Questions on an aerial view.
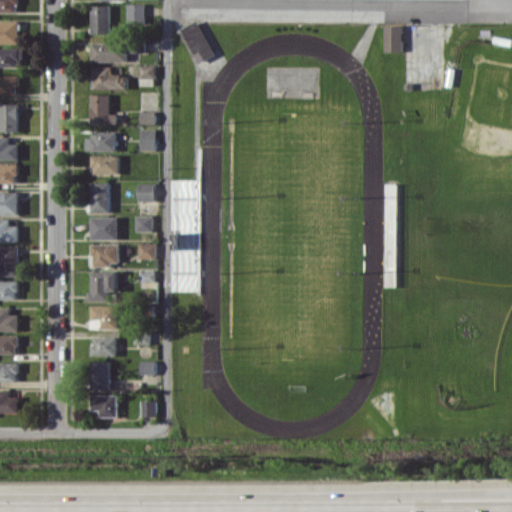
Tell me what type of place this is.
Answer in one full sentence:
The picture captures a sports ground.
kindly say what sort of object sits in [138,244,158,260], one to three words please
building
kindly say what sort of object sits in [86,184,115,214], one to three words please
house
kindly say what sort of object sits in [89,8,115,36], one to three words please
house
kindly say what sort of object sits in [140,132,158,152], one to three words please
building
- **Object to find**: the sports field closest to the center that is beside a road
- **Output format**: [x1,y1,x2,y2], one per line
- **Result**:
[222,54,364,420]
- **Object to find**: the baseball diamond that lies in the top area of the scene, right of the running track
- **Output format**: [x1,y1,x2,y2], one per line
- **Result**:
[464,54,512,156]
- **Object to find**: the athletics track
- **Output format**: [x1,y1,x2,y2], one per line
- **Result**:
[202,35,384,438]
